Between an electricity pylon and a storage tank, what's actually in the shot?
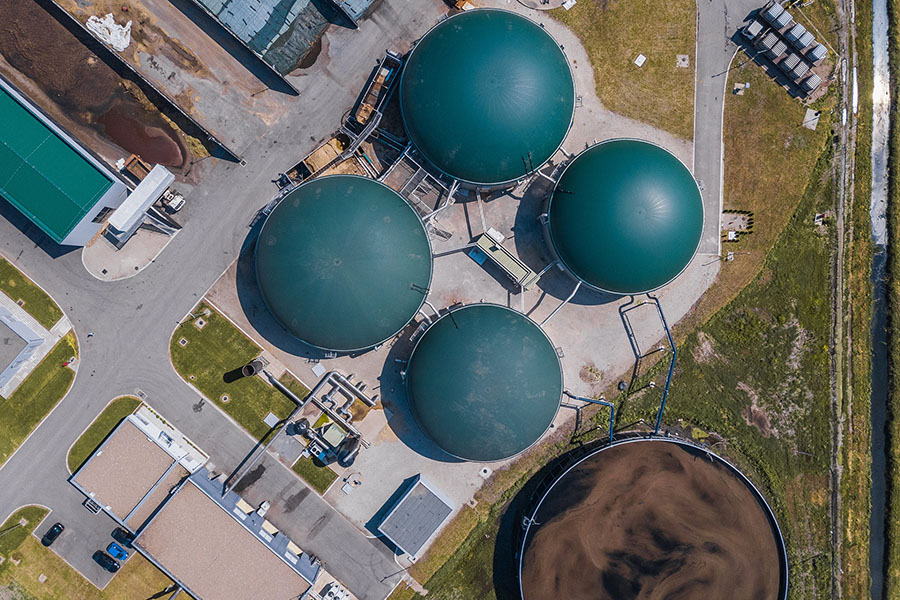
storage tank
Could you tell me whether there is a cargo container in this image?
Yes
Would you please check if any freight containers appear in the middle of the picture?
Yes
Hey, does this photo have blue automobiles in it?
Yes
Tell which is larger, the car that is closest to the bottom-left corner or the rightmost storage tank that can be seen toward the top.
the storage tank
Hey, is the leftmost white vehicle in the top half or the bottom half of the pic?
top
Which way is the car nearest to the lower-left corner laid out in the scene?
at an angle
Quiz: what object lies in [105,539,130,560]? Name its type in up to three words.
car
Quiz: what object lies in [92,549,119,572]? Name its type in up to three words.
car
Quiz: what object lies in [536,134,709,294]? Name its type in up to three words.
storage tank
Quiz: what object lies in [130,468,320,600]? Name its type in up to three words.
building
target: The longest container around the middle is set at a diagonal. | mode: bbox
[475,232,537,293]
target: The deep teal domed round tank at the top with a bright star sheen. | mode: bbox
[400,10,584,192]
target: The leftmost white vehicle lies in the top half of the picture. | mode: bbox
[163,187,190,213]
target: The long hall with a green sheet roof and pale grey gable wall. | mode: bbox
[0,76,132,247]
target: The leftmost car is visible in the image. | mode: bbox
[42,521,66,546]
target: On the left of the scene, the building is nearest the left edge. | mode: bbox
[0,302,47,393]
